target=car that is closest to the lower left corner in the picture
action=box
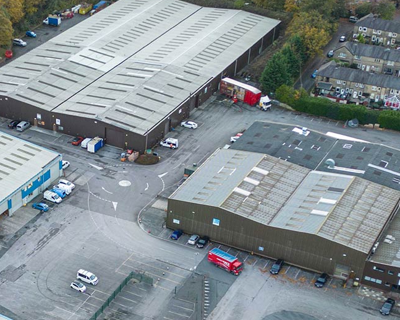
[68,279,87,293]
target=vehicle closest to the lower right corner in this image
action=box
[379,299,393,314]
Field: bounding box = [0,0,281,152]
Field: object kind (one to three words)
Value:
warehouse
